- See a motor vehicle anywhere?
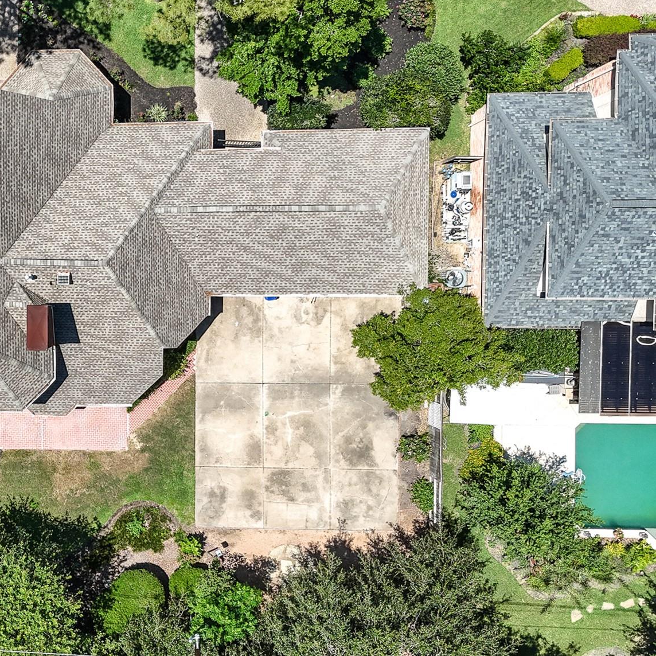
No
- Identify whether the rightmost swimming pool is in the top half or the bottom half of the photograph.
bottom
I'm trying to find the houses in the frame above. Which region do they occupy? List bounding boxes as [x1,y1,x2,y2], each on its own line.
[467,31,656,332]
[0,46,433,417]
